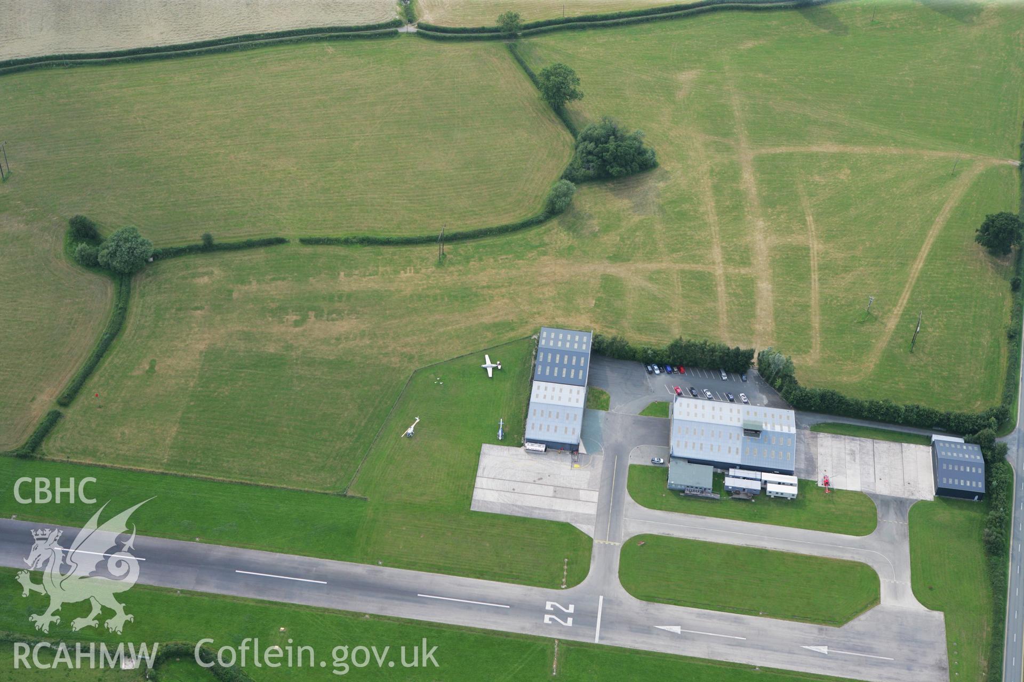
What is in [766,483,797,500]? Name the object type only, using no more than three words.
building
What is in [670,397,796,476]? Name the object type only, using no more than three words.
hangar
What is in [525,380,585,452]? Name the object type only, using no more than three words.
hangar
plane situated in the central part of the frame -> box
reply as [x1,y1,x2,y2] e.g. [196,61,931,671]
[481,355,501,377]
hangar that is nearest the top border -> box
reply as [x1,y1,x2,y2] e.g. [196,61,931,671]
[534,326,592,386]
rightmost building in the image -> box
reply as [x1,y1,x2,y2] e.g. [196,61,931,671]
[932,435,985,500]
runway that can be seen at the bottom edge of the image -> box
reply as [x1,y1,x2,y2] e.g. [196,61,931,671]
[0,519,950,682]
